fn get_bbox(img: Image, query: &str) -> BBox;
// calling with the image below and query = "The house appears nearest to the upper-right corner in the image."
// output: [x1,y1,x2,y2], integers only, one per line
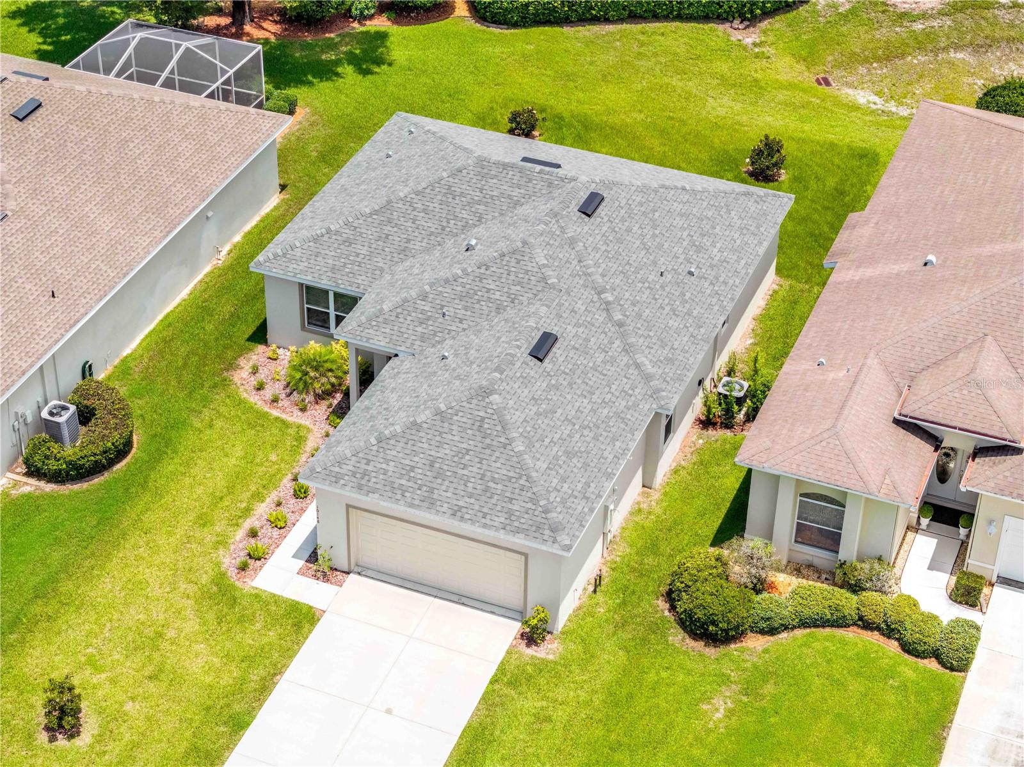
[732,98,1024,581]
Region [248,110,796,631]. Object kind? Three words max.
house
